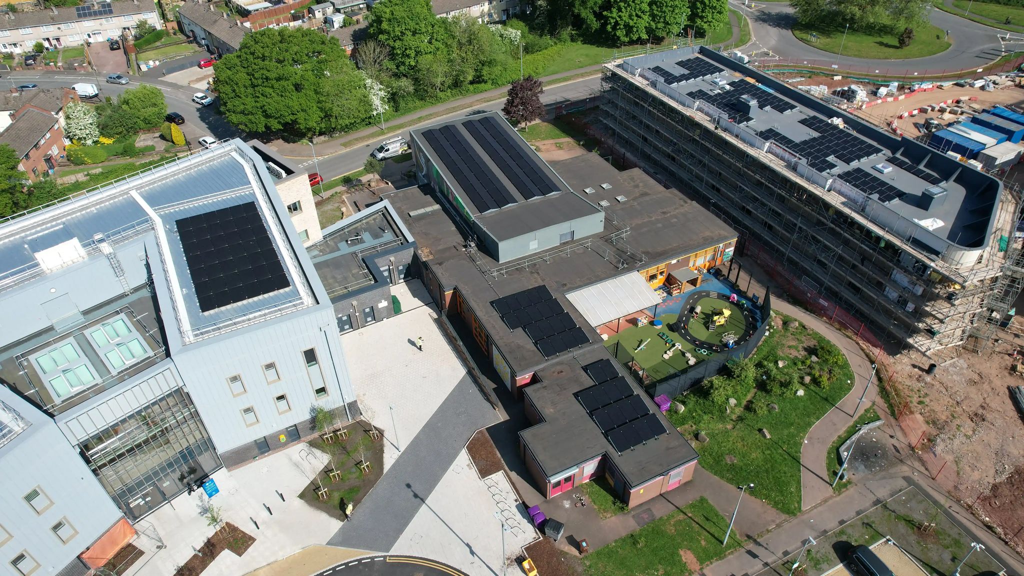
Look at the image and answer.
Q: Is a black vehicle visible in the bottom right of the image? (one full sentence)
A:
Yes, the scene does show a black vehicle in the bottom right of the image.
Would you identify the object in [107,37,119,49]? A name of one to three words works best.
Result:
vehicle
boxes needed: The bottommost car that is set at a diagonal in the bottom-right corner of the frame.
[838,531,900,576]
